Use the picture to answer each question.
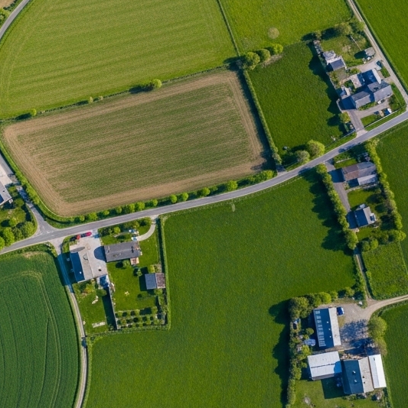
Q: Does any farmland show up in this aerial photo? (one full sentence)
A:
Yes, farmland can be seen from above here.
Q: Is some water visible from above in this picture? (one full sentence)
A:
No, there's no water in this view.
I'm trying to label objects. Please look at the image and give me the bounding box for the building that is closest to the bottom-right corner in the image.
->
[340,351,386,394]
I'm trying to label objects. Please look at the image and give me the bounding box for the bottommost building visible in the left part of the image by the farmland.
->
[144,271,166,290]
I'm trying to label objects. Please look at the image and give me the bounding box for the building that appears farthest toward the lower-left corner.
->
[66,247,102,281]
